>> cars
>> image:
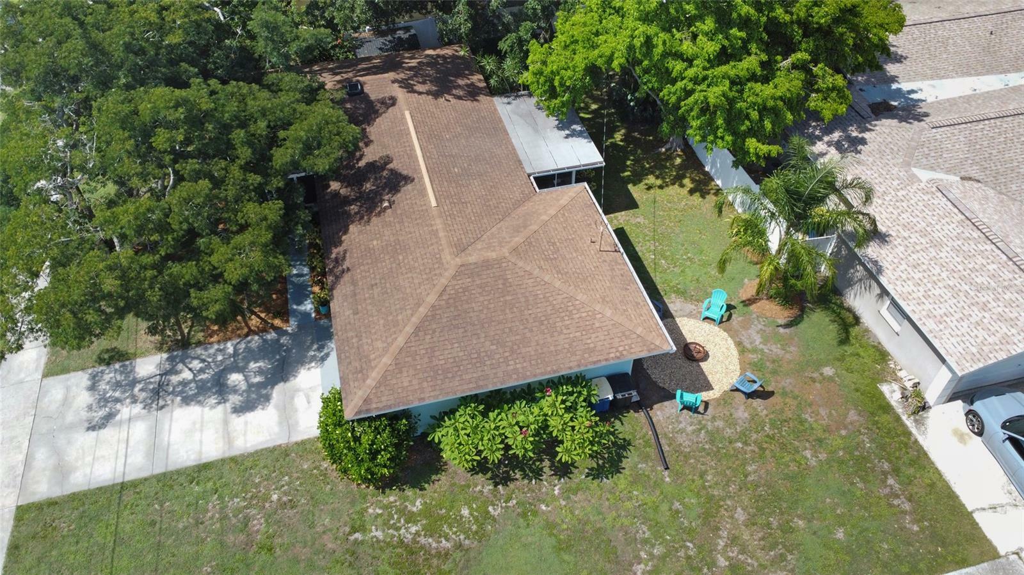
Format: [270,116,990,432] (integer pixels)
[955,379,1024,485]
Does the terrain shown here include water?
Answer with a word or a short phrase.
No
